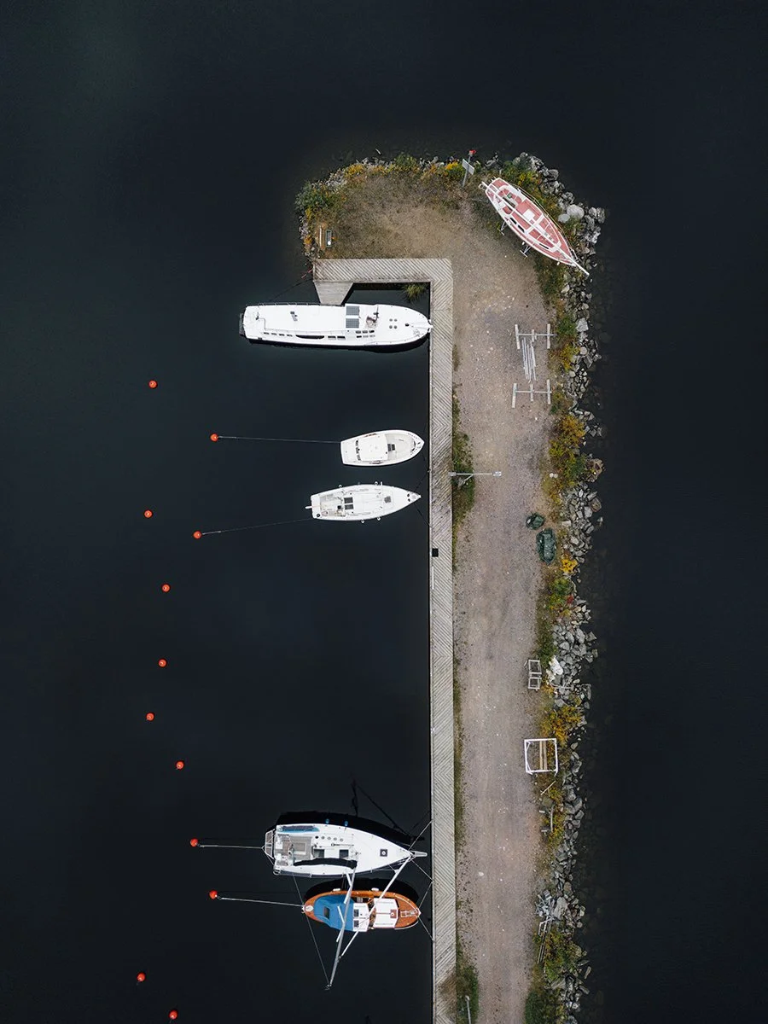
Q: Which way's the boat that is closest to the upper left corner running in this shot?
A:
horizontally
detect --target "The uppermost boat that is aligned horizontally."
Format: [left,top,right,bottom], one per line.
[238,300,433,346]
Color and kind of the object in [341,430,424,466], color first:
white boat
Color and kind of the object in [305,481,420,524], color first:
white boat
